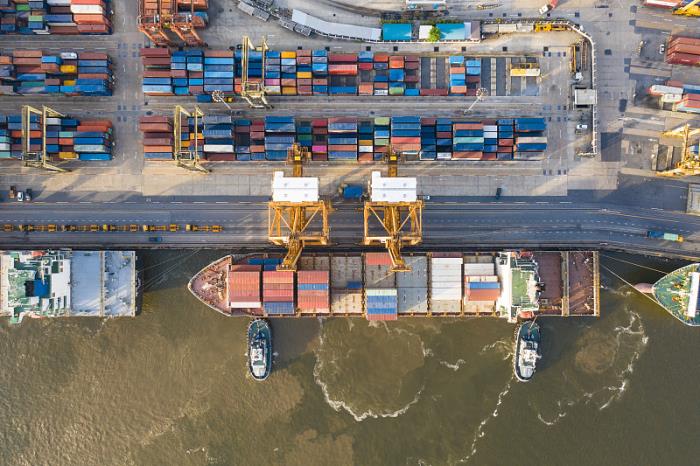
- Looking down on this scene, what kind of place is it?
port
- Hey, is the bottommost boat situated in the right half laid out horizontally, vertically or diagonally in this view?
vertically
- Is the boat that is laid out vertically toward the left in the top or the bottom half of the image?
bottom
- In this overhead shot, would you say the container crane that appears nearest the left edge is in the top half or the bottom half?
top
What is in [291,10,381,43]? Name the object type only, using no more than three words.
shed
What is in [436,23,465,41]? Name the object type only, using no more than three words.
building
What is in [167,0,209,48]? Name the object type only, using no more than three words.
container crane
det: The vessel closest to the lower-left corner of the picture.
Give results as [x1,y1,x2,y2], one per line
[0,249,145,325]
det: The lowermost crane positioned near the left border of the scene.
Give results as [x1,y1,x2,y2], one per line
[16,105,68,173]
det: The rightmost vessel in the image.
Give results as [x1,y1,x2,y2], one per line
[635,266,700,325]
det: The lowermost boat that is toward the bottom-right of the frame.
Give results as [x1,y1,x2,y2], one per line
[513,320,540,382]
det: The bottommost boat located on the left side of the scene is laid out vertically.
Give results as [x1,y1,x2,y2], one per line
[247,318,273,381]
